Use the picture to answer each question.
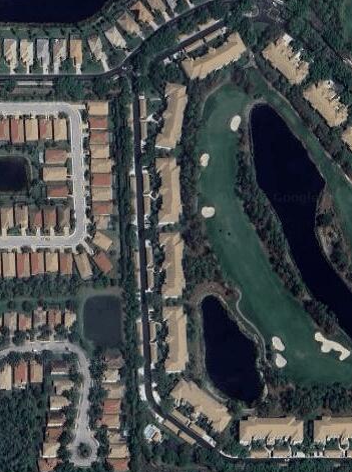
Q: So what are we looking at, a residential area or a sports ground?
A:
residential area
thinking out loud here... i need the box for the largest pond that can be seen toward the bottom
[82,294,126,350]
